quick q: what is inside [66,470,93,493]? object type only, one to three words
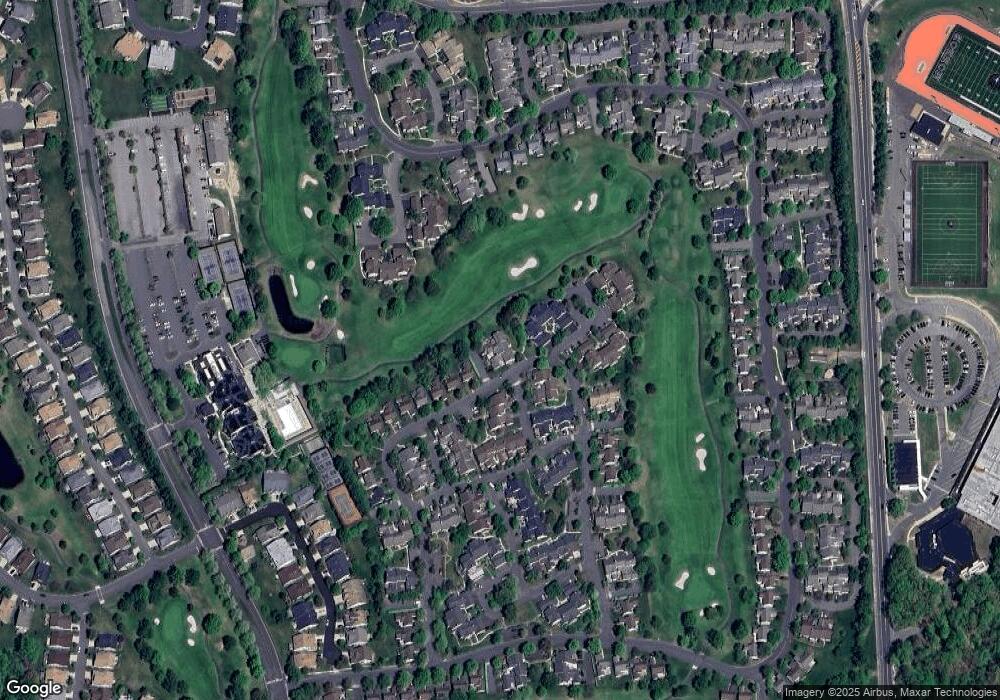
house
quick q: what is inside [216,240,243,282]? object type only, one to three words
tennis court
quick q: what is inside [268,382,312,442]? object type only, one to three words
swimming pool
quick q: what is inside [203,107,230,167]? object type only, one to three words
building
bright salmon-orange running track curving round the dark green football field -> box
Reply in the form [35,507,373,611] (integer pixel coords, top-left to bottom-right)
[896,15,1000,137]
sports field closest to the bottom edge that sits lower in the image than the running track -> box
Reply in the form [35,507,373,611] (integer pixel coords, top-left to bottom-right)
[912,160,988,287]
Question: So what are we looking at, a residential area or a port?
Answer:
residential area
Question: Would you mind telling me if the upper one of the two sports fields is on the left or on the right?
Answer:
right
